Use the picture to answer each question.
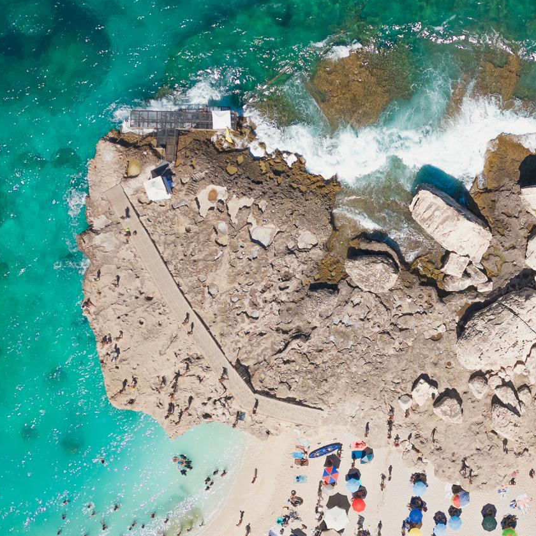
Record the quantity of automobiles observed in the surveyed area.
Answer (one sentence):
Not a single automobile can be seen.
